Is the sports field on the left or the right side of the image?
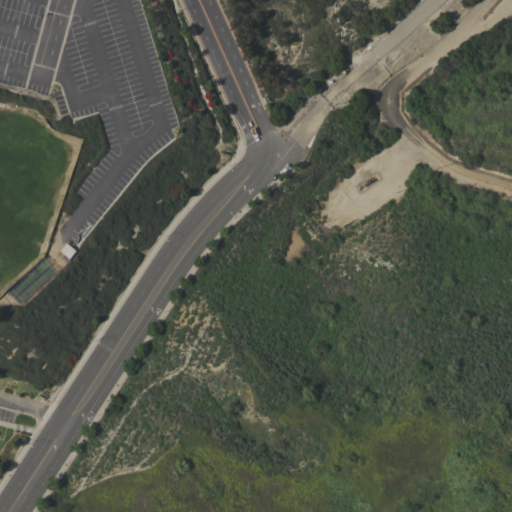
left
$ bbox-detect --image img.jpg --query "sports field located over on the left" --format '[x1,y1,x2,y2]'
[0,103,82,302]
